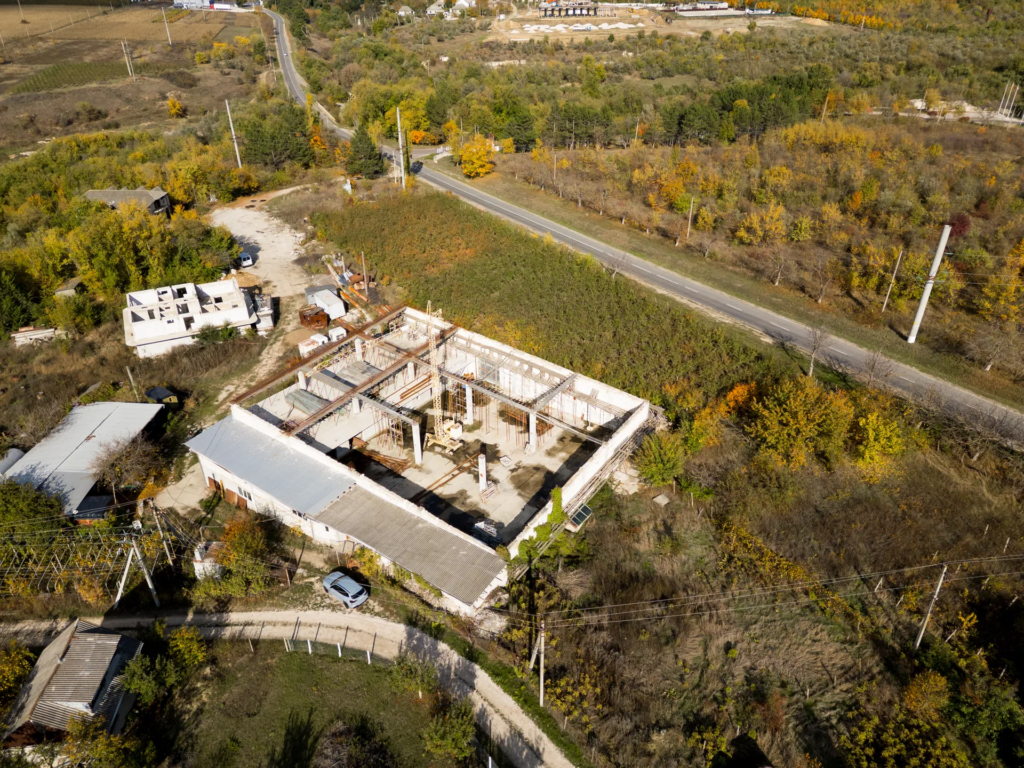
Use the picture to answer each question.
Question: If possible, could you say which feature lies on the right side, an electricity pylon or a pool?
electricity pylon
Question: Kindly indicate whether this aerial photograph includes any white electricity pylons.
Yes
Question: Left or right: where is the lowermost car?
left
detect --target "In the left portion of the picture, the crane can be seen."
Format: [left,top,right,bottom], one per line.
[309,304,472,455]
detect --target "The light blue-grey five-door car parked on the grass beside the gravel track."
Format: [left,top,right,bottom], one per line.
[322,572,367,608]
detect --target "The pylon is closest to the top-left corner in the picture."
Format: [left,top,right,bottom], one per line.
[223,100,242,165]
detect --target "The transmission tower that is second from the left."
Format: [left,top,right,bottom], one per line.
[392,106,410,188]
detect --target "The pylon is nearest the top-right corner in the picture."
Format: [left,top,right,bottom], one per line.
[907,226,952,343]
